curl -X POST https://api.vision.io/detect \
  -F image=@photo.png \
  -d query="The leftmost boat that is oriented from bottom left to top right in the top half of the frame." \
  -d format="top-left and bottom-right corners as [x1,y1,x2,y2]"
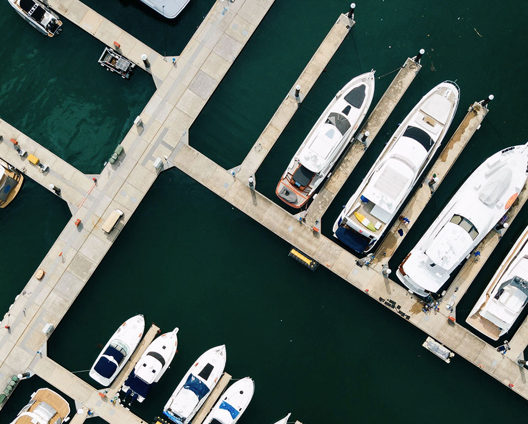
[278,66,378,206]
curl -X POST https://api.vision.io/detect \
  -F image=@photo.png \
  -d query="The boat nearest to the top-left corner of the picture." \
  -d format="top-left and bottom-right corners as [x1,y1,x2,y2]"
[7,0,64,40]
